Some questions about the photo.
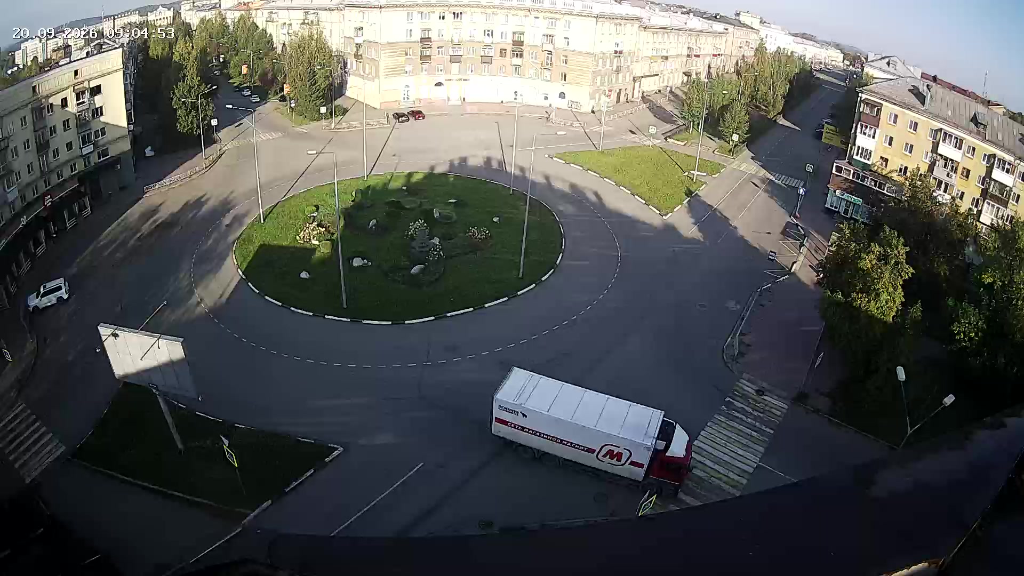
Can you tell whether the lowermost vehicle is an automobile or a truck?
truck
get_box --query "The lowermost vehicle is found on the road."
[491,366,699,499]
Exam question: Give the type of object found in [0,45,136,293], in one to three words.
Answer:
building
